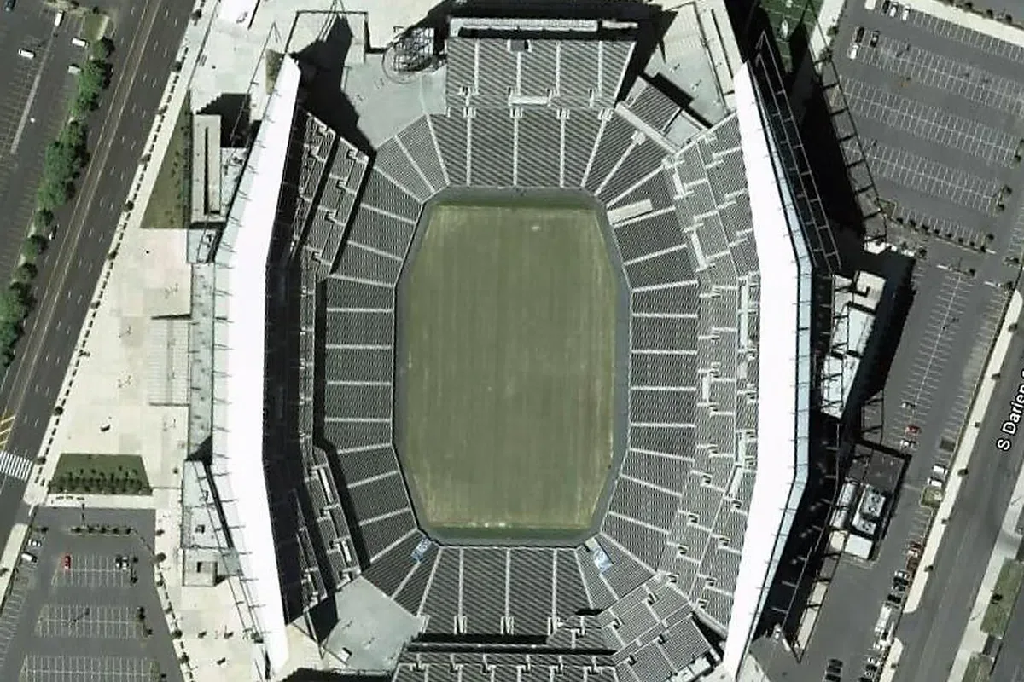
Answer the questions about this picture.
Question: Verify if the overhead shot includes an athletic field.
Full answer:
Yes, an athletic field appears in the view.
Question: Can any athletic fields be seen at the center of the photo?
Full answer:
Yes, an athletic field shows up at the center of the photo.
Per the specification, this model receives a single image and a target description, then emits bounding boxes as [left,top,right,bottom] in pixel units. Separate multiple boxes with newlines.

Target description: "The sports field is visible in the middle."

[404,203,620,525]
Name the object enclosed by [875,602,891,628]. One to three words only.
vehicle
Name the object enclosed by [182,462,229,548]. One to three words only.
building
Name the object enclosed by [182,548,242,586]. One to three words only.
building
